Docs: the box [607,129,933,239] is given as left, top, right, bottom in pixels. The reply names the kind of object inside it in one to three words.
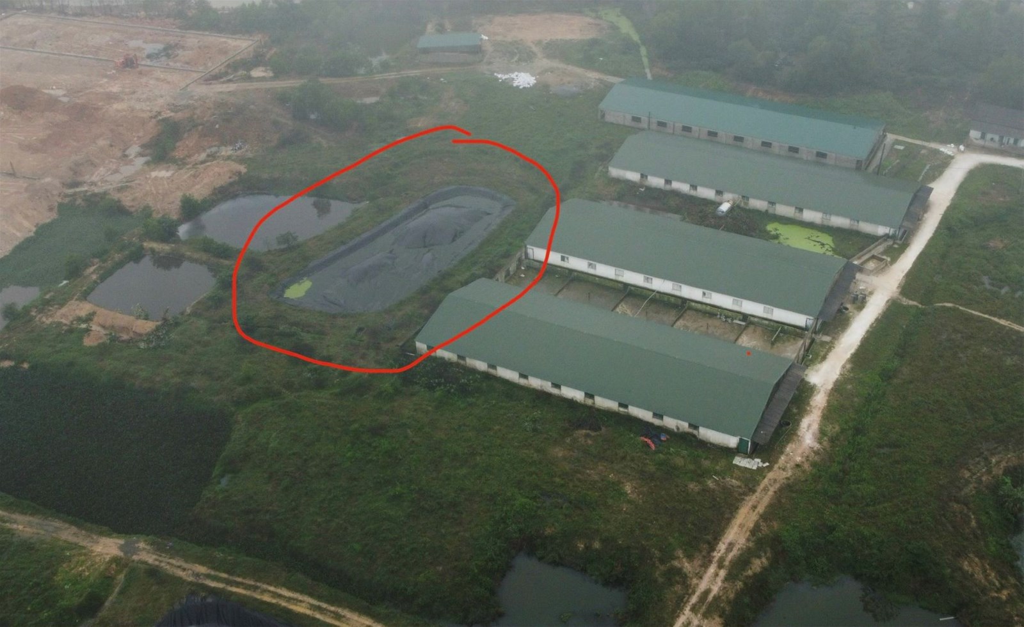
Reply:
shed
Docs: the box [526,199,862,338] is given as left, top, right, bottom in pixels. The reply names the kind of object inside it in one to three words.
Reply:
shed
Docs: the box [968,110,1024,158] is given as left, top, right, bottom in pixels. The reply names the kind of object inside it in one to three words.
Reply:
house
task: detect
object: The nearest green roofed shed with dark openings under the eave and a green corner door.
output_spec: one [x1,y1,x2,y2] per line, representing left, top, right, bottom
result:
[414,277,806,455]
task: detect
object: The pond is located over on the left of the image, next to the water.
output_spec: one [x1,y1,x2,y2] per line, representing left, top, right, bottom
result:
[274,184,518,315]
